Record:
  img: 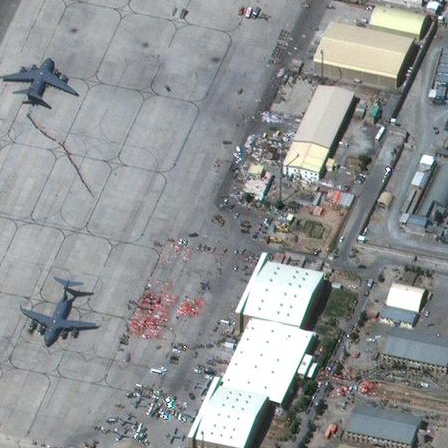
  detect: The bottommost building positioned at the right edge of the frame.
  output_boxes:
[345,404,426,448]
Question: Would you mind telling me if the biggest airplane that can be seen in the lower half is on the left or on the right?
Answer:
left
